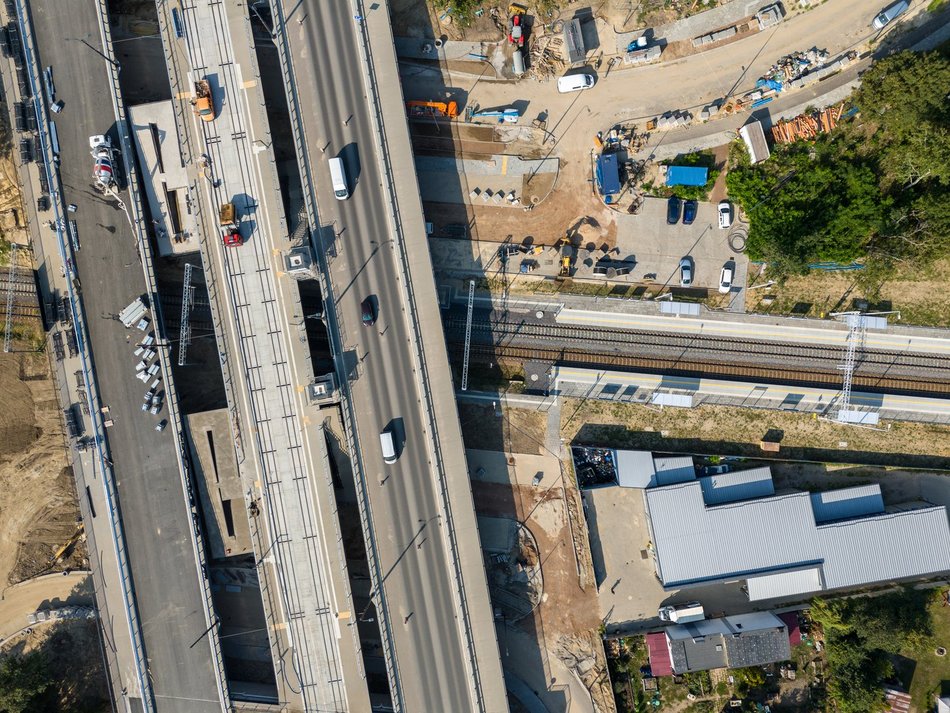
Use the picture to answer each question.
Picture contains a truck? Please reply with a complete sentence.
Yes, there is a truck in the image.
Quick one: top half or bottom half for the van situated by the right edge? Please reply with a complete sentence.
The van situated by the right edge is in the top half of the image.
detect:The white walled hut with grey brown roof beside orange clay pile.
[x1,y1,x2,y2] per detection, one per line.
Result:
[738,121,770,166]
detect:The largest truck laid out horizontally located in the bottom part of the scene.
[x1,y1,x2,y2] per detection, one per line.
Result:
[654,595,704,622]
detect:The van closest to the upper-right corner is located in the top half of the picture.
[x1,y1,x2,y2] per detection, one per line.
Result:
[867,0,910,34]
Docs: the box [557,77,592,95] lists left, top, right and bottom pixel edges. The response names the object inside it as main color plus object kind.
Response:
white vehicle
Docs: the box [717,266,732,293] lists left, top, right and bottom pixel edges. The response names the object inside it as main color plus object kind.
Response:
white car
